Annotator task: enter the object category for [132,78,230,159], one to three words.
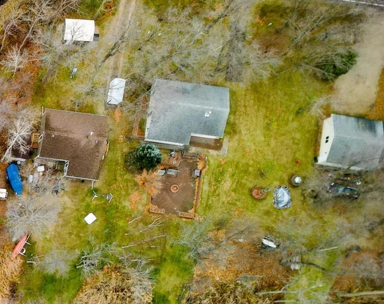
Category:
house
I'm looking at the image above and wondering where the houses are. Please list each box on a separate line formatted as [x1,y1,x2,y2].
[132,78,230,159]
[314,113,384,172]
[31,106,108,189]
